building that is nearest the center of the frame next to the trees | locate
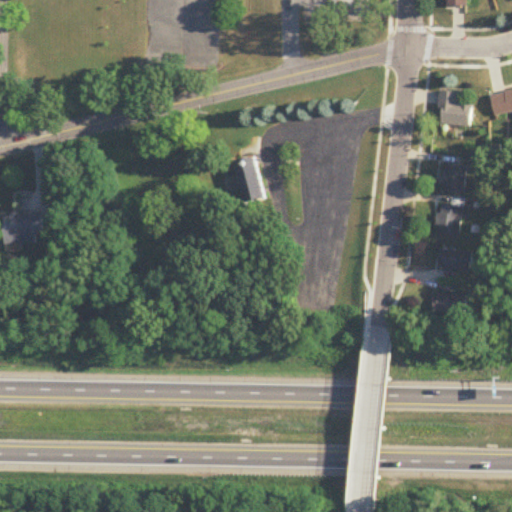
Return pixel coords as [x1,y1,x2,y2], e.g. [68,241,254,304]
[242,156,266,200]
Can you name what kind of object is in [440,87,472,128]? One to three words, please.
house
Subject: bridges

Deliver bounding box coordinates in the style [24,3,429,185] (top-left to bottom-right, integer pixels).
[344,334,390,512]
